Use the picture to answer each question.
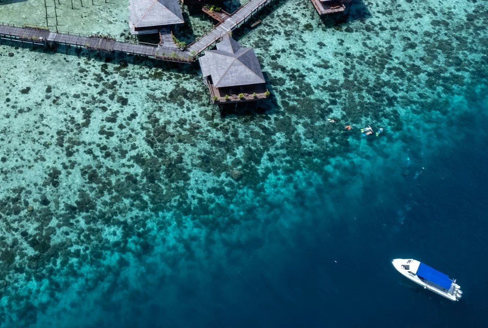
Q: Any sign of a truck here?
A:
No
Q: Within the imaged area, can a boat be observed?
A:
Yes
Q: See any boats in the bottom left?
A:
No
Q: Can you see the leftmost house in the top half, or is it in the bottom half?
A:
top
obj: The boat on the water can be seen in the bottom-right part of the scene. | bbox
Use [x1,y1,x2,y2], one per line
[391,258,465,302]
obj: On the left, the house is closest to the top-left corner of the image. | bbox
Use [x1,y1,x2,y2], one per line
[125,0,183,40]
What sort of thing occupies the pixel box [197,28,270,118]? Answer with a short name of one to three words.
house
